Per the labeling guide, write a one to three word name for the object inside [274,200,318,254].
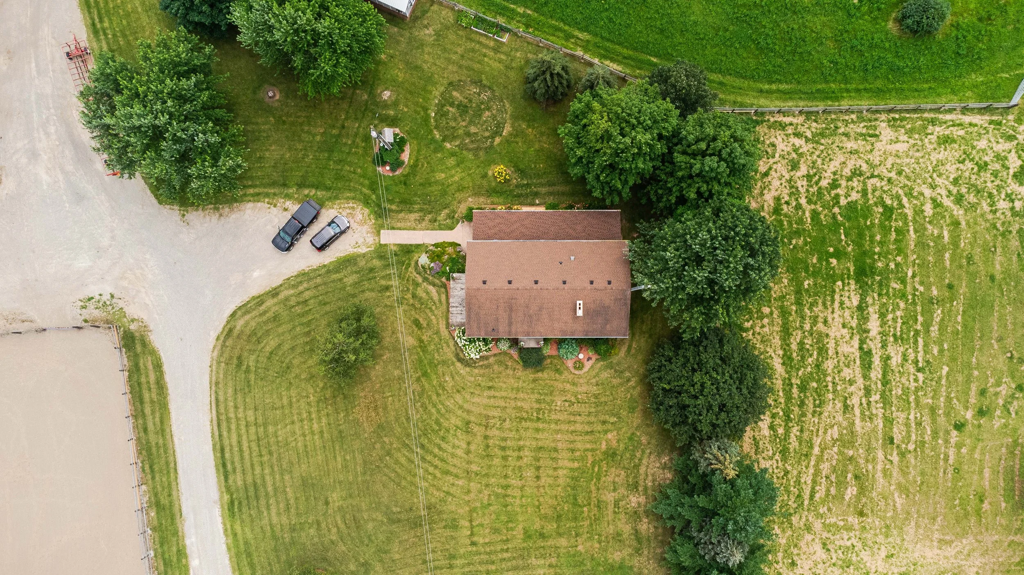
truck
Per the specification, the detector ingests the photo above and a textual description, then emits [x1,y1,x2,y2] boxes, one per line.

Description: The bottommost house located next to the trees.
[465,210,632,338]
